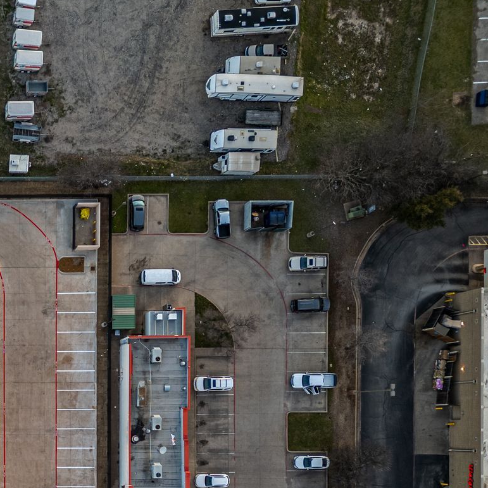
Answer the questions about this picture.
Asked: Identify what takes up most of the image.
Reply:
paved ground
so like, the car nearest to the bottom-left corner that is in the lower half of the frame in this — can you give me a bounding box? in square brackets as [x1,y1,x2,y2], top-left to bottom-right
[194,473,230,488]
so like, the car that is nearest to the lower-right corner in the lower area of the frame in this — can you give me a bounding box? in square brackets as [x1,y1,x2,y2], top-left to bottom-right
[292,454,330,470]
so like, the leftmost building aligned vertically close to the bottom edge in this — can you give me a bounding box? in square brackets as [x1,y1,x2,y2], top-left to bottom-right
[118,304,190,488]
